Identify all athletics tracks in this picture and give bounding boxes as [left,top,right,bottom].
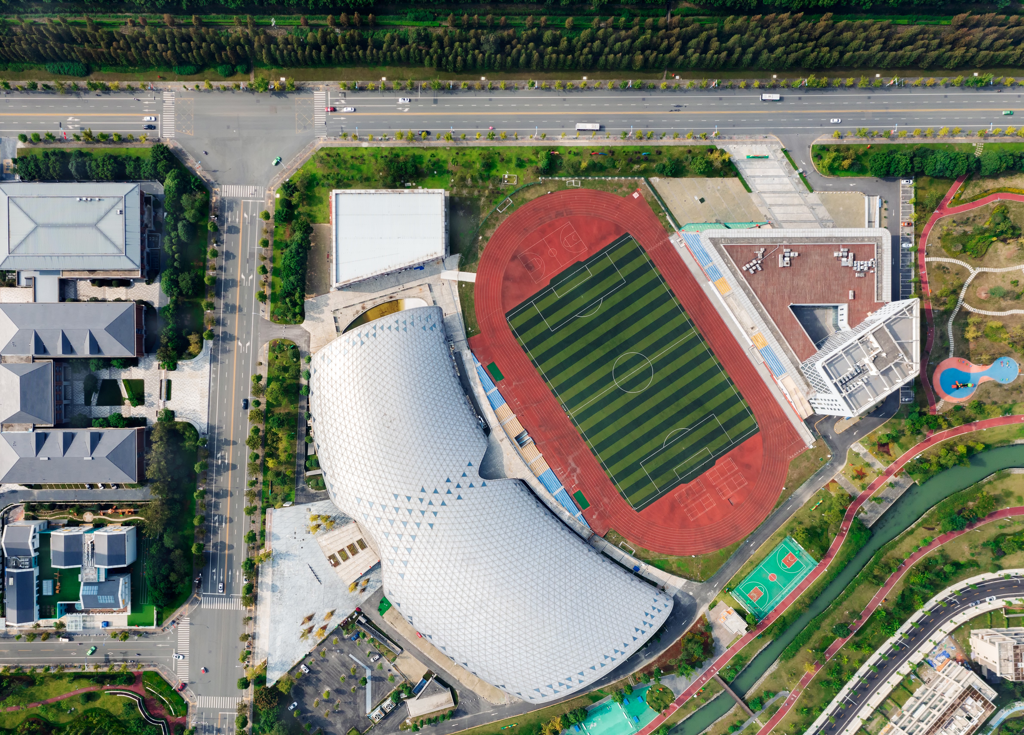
[465,189,807,557]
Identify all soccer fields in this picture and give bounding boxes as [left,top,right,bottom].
[501,229,761,515]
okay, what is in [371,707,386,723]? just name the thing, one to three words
cooling tower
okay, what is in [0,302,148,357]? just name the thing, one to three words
building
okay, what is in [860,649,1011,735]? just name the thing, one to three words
house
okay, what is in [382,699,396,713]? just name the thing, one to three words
cooling tower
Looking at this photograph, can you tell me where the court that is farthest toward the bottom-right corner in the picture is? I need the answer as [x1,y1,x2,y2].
[731,536,813,619]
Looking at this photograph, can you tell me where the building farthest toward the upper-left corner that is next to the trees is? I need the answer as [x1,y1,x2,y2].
[0,182,160,280]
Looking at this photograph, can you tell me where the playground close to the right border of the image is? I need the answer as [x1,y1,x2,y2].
[933,357,1018,402]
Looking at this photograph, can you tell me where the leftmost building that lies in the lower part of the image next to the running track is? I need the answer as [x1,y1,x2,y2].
[310,307,674,703]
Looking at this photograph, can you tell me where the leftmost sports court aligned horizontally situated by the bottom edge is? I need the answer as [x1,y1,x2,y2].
[560,704,636,735]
